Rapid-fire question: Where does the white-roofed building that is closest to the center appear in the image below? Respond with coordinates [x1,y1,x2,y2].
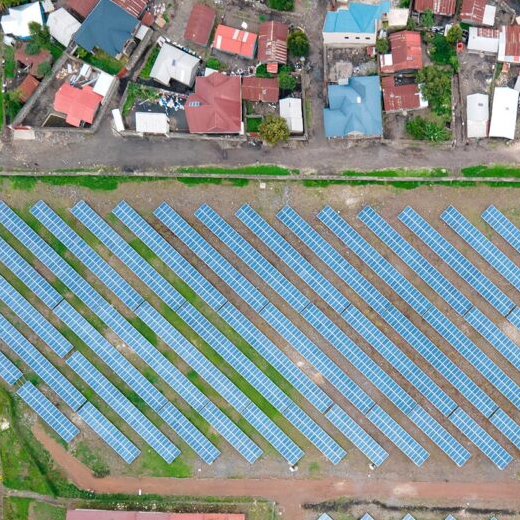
[280,100,303,134]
